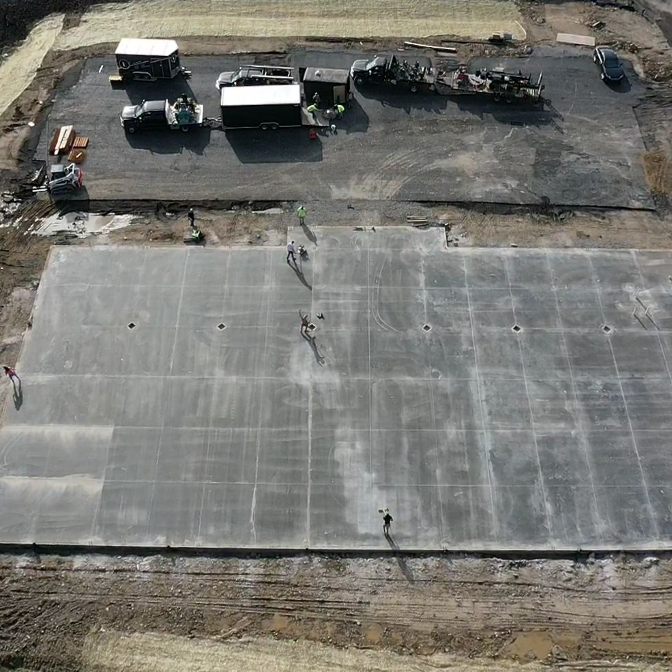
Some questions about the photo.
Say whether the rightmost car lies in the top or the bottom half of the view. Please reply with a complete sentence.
The top half of the photo is where the rightmost car is.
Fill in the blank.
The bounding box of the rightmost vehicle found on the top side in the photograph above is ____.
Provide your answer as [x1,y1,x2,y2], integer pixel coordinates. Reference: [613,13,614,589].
[592,50,632,84]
